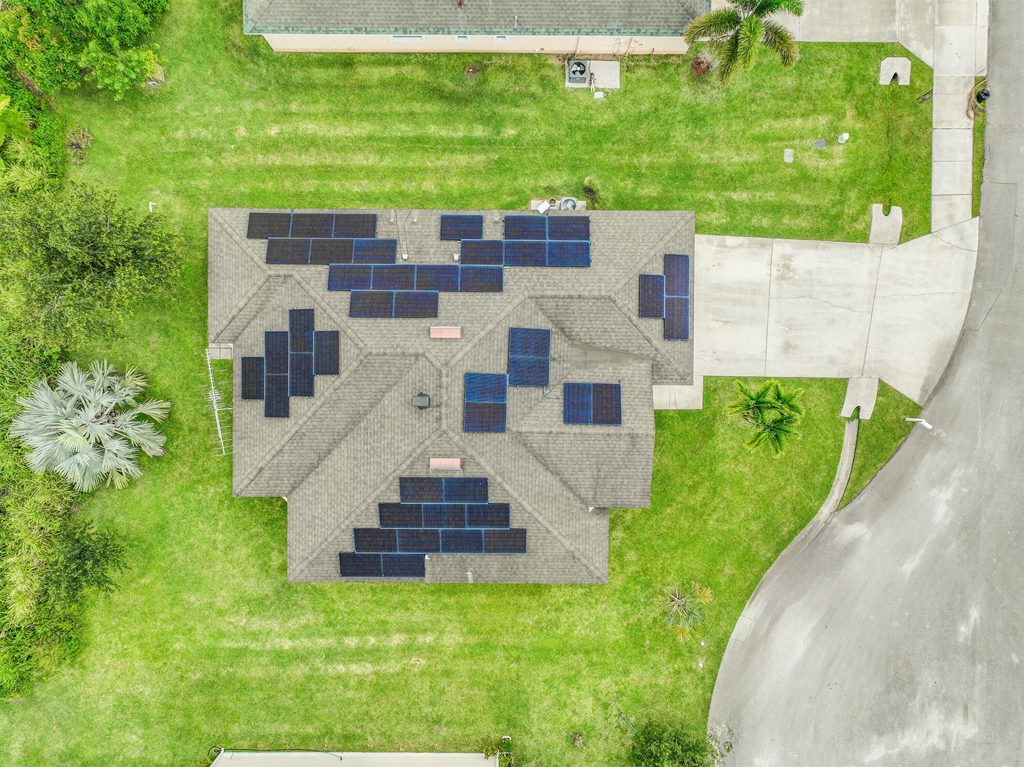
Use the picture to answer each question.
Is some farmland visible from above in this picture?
No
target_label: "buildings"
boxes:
[243,0,711,59]
[208,209,695,583]
[203,744,500,767]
